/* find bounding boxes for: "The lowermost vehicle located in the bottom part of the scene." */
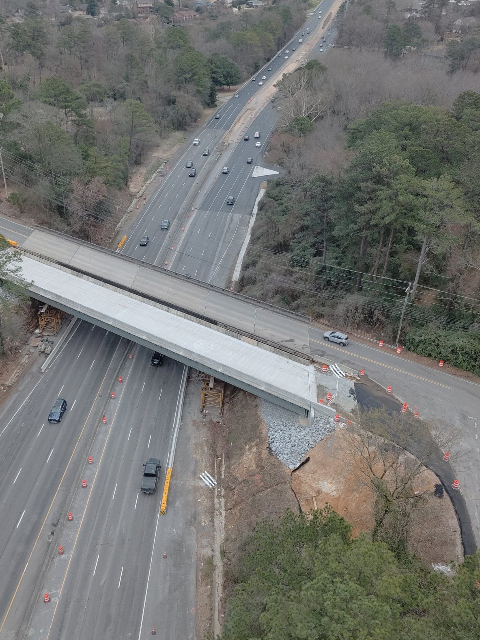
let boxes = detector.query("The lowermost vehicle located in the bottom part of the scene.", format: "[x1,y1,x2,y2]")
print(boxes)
[141,458,160,492]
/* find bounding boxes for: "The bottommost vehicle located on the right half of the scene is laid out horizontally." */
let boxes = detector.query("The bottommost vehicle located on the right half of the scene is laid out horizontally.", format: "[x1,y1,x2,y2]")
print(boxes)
[323,331,351,346]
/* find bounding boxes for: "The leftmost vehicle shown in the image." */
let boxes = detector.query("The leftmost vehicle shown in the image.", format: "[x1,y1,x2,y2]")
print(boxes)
[48,397,66,421]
